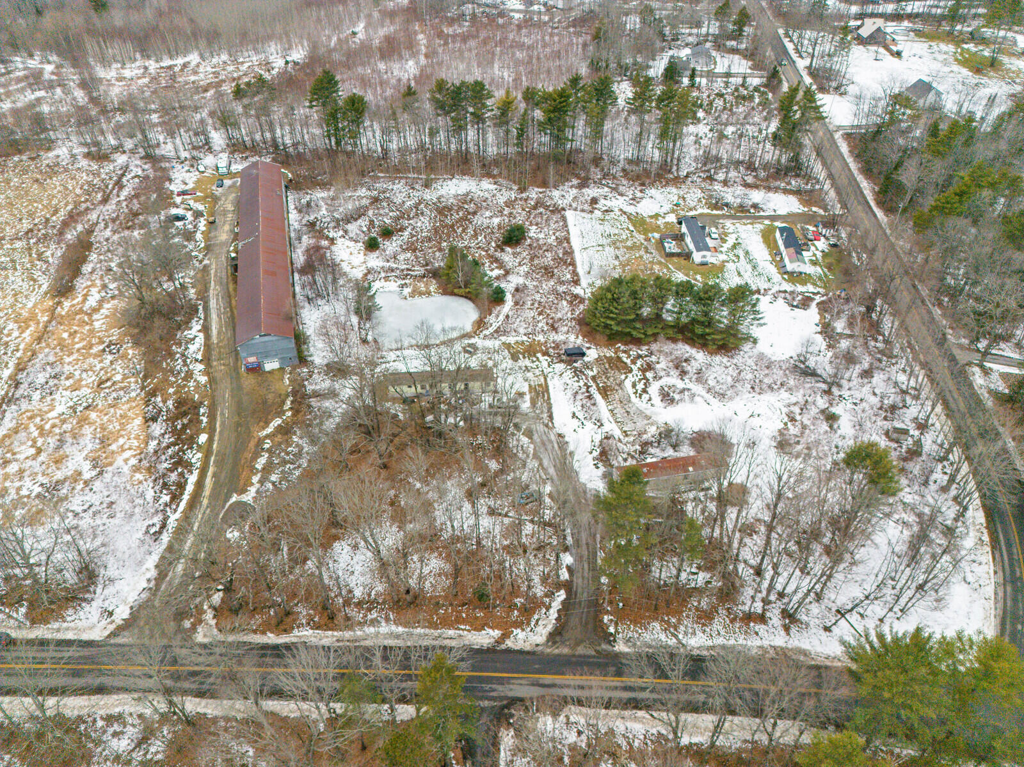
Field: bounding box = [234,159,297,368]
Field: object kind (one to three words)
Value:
barn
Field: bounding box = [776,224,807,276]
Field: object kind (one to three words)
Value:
house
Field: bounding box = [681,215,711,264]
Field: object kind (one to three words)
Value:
house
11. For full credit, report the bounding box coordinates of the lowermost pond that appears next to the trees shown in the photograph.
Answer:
[372,291,480,350]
